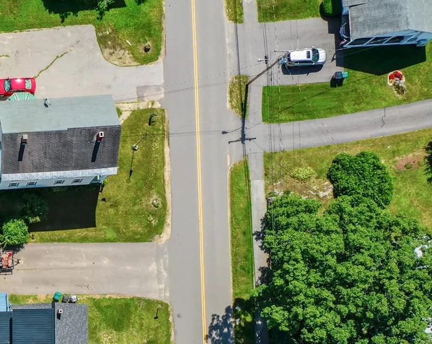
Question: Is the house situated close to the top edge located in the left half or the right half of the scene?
right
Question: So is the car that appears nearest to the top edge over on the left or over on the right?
right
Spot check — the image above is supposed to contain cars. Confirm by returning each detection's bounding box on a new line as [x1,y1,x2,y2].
[0,77,36,99]
[279,48,324,72]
